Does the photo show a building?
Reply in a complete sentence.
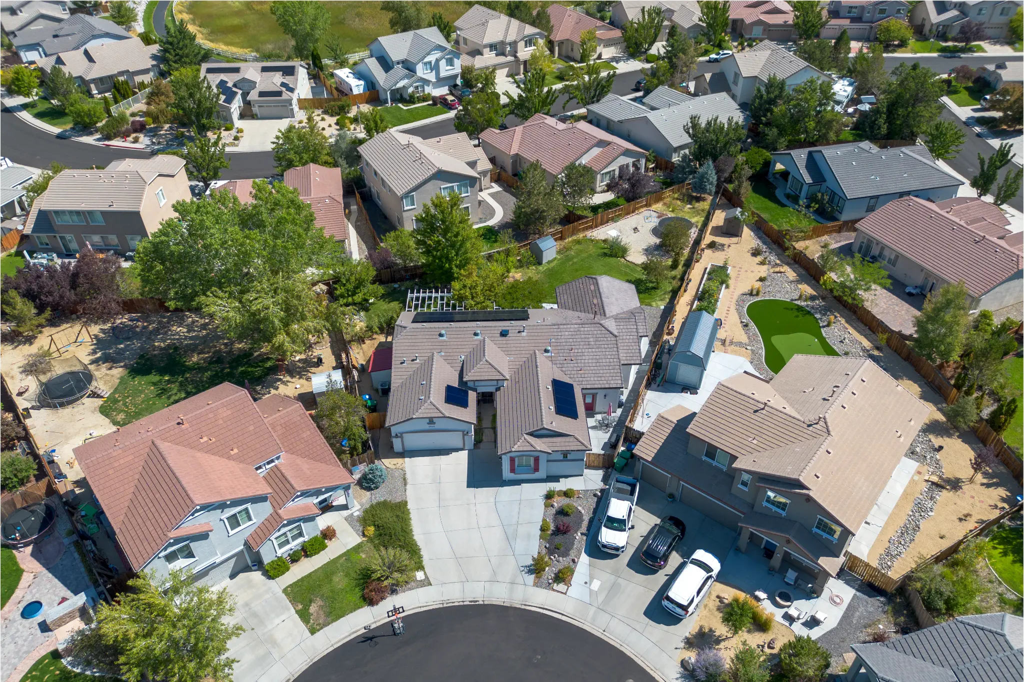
Yes, a building can be made out from above.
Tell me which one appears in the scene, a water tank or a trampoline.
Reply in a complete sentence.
Looking from above, you can make out a trampoline.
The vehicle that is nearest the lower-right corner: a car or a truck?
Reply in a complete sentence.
Looking closely, the vehicle that is nearest the lower-right corner is a car.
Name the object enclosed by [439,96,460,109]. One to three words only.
vehicle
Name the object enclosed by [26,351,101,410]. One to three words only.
trampoline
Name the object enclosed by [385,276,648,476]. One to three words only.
house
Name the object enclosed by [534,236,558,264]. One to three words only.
shed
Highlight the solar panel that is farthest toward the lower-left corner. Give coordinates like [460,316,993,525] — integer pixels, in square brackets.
[446,384,469,405]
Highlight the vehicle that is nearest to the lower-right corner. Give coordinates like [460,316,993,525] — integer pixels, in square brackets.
[662,552,716,621]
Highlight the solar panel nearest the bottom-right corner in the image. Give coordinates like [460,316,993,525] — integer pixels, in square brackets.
[553,378,578,418]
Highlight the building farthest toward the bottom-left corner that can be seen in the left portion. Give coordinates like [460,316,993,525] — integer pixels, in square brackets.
[72,380,356,596]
